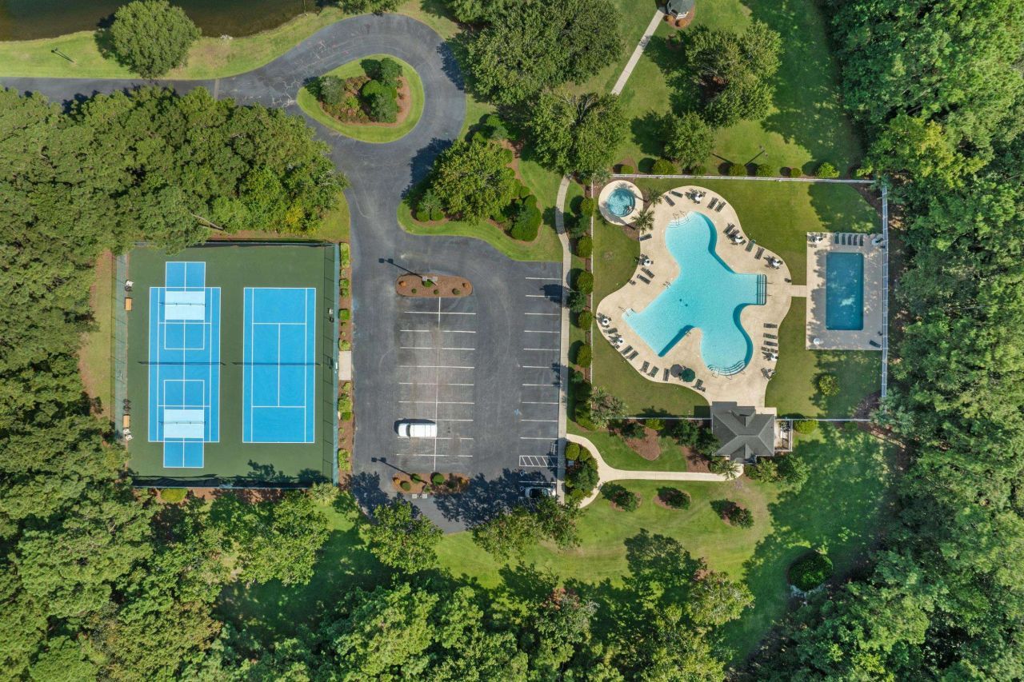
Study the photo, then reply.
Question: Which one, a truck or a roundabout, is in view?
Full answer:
Looking from above, you can make out a roundabout.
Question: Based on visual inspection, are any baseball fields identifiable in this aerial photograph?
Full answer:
No, there isn't any baseball field down there.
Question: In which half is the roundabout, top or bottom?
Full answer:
The roundabout is in the top half of the image.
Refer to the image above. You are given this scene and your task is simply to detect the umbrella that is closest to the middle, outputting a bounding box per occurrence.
[681,368,696,382]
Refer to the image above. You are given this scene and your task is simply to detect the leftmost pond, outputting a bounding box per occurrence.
[0,0,319,41]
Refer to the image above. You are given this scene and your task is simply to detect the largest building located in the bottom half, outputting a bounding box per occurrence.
[710,410,775,462]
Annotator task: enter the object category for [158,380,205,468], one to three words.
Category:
sports court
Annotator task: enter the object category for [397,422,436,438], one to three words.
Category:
car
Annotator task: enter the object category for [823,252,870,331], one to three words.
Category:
swimming pool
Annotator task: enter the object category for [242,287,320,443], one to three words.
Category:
tennis court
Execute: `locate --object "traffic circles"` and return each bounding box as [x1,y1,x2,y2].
[297,54,424,143]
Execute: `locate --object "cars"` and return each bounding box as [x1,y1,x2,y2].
[397,422,436,438]
[525,486,556,500]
